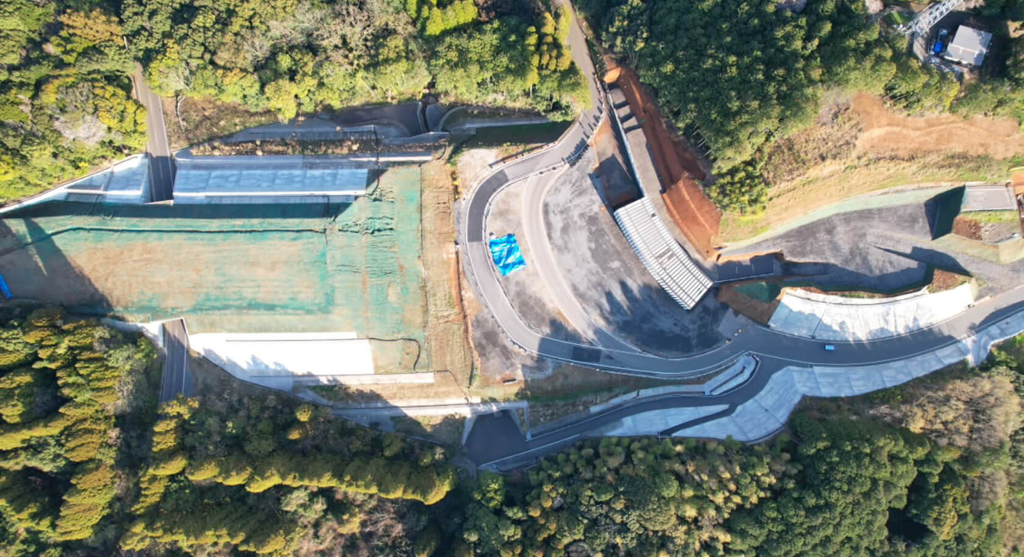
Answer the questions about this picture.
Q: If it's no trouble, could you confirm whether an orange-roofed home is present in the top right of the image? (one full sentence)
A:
No, the scene shows no orange-roofed home in the top right of the image.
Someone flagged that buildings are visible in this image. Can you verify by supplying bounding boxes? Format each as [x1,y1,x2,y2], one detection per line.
[939,26,992,67]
